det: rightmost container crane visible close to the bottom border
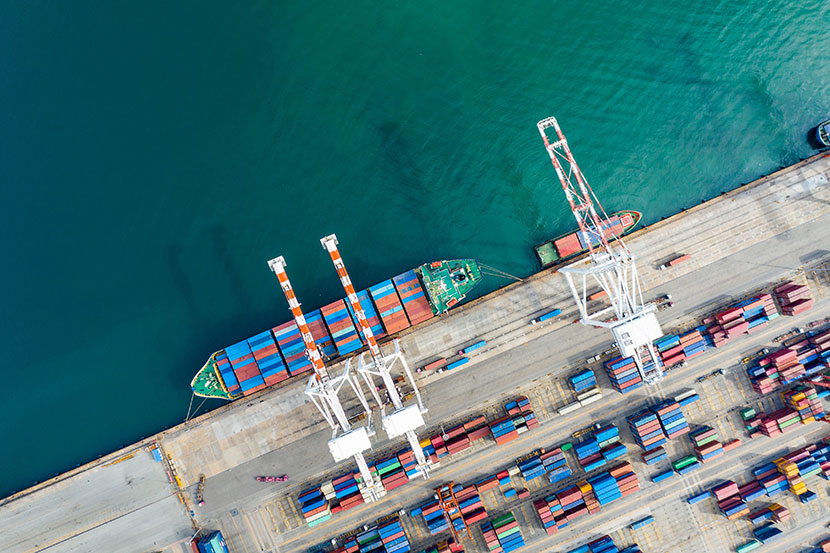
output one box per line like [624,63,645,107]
[434,484,473,547]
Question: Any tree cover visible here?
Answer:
No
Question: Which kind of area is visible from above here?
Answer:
port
